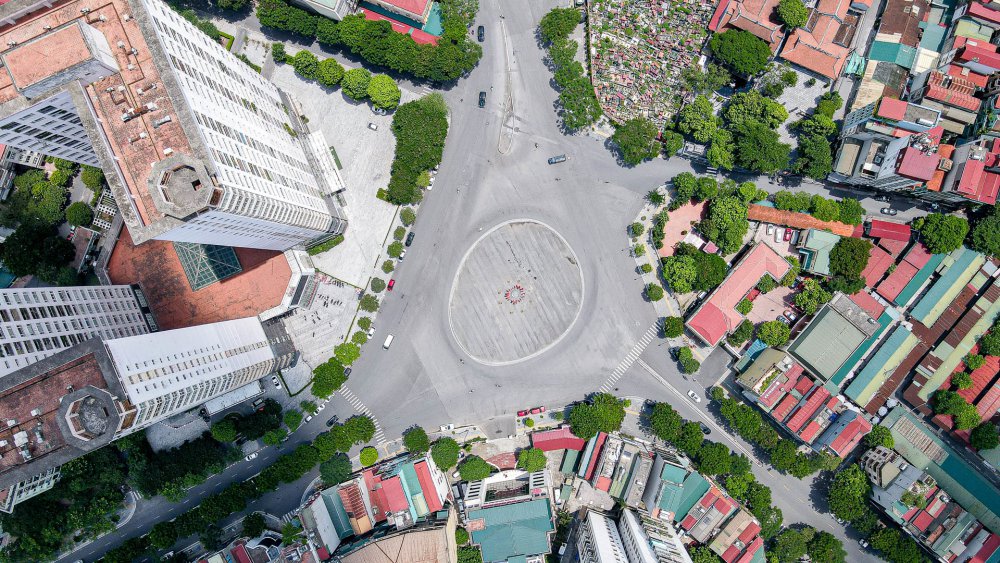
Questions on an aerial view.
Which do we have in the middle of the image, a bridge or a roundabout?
roundabout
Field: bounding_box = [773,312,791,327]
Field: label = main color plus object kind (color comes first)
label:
gray car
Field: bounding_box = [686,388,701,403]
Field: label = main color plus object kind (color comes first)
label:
white car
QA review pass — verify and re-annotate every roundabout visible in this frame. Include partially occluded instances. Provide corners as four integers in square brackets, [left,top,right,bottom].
[449,220,584,365]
